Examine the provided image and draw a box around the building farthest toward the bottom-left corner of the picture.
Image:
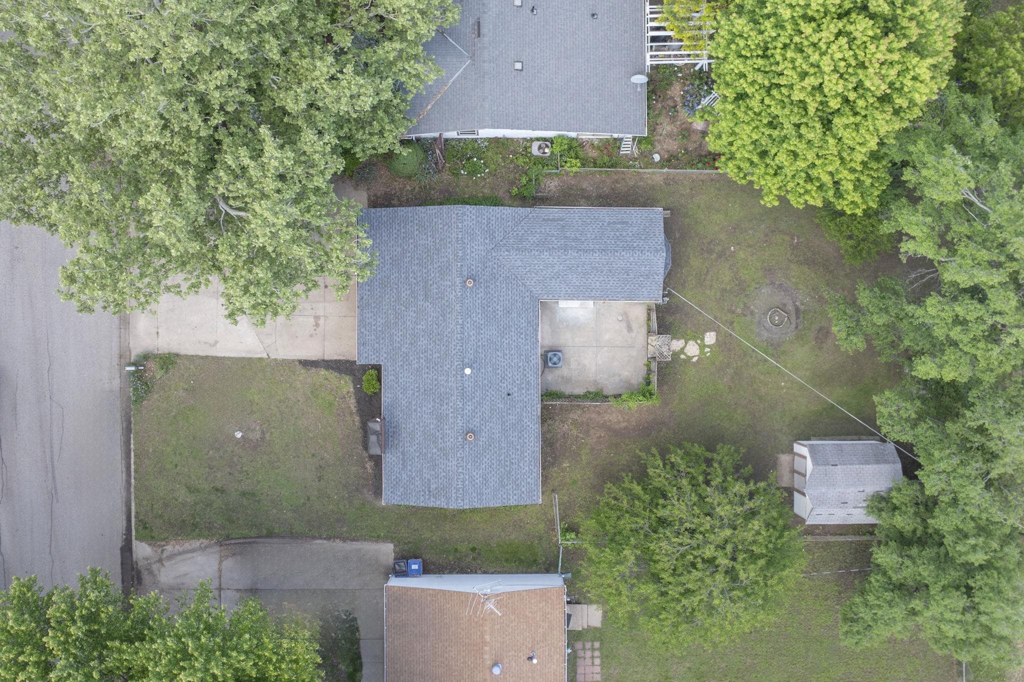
[382,573,582,682]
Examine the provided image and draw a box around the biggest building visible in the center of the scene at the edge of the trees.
[355,205,670,508]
